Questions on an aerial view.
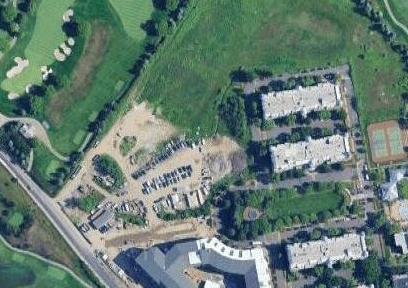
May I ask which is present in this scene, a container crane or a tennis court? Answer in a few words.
tennis court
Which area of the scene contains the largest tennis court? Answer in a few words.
right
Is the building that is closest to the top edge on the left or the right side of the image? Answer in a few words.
right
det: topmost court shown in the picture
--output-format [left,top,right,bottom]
[368,119,405,163]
